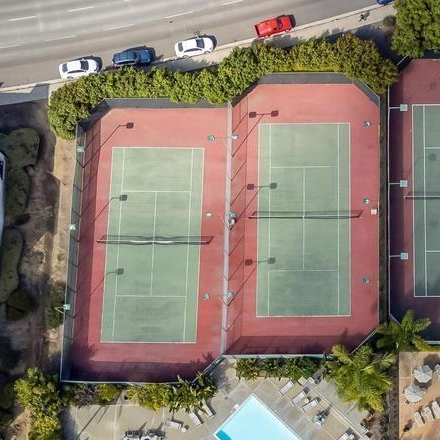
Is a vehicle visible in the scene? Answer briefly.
Yes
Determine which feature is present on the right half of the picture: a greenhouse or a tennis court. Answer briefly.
tennis court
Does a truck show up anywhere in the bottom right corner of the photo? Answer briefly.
No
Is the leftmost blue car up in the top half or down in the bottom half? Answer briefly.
top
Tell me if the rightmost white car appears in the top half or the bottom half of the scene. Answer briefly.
top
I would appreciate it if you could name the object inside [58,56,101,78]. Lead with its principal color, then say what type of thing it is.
white car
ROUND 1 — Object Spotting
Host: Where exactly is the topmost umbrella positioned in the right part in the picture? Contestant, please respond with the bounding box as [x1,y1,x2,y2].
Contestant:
[412,363,434,385]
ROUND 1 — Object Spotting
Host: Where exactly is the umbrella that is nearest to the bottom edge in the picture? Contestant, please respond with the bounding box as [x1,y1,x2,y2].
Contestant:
[403,382,426,405]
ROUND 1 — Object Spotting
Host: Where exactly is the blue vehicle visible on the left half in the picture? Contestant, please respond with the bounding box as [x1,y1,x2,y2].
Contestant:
[112,46,153,69]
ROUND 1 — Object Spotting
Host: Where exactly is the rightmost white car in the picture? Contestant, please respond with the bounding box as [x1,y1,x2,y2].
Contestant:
[174,36,215,59]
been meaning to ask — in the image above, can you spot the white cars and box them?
[174,36,215,59]
[58,56,101,78]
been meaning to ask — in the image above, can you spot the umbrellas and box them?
[412,363,434,385]
[403,382,426,405]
